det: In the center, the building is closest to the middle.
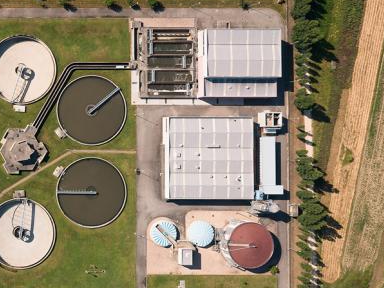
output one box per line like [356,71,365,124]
[160,117,254,199]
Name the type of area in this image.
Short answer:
industrial area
